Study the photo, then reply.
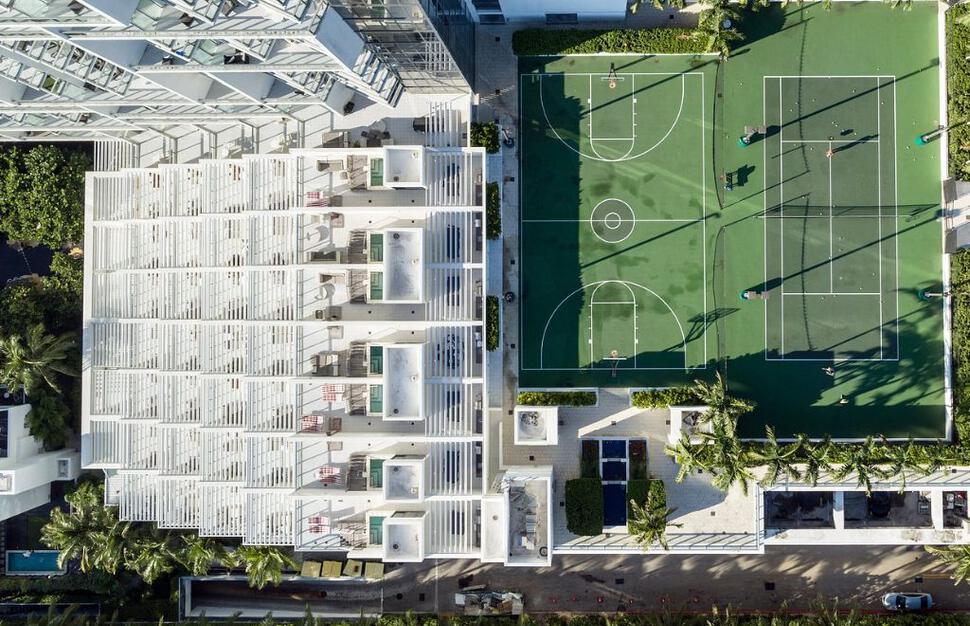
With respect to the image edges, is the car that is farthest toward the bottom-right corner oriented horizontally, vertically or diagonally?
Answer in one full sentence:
In this picture, the car that is farthest toward the bottom-right corner is oriented horizontally.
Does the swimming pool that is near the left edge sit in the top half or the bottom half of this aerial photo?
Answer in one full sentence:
You can find the swimming pool that is near the left edge in the bottom half.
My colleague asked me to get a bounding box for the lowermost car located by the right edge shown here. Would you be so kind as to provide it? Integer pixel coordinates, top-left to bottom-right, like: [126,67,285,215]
[882,588,932,612]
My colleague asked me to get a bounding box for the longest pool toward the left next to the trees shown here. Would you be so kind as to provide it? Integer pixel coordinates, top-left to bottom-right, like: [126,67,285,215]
[5,549,67,575]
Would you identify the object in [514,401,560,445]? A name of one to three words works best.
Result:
building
